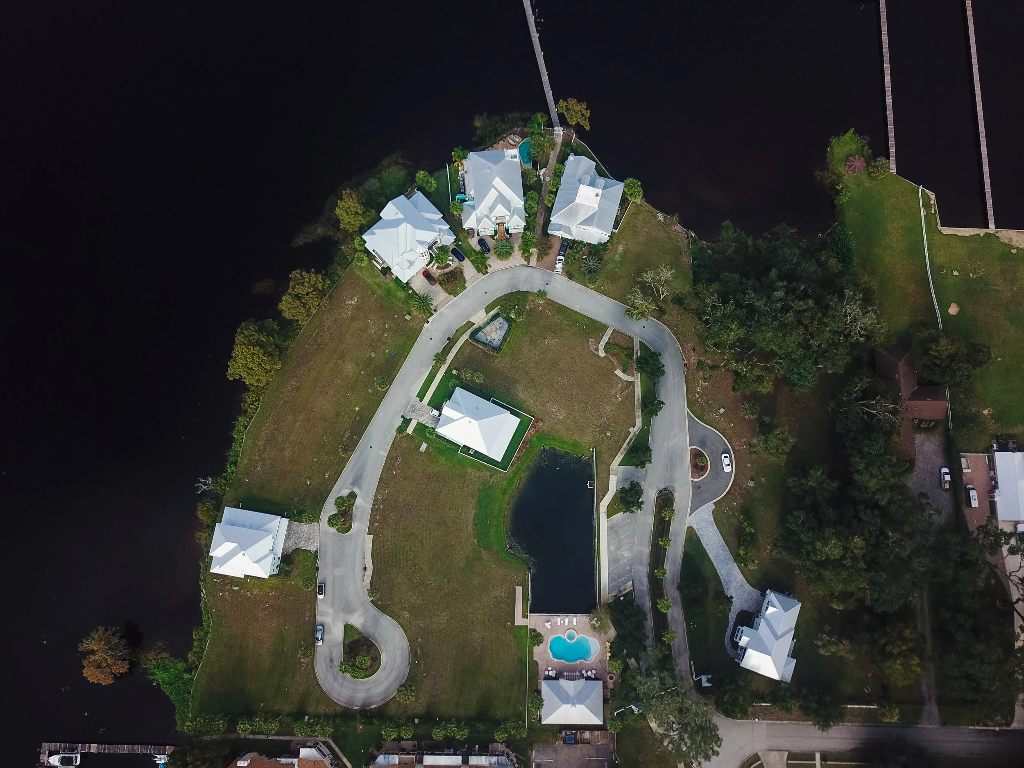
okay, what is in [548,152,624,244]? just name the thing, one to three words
house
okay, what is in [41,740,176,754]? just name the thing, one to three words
pier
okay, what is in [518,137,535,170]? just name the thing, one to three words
swimming pool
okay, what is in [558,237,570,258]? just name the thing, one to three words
vehicle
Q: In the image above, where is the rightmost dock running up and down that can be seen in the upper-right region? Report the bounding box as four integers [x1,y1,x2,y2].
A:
[961,0,996,230]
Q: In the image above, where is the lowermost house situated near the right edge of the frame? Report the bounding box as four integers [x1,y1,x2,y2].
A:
[989,440,1024,521]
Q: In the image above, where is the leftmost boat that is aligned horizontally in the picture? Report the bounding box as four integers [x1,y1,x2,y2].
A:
[47,754,82,766]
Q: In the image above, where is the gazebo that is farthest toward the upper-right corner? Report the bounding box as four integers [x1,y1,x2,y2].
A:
[840,156,864,178]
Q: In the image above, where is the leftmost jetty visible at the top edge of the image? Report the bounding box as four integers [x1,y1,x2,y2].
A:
[525,0,560,130]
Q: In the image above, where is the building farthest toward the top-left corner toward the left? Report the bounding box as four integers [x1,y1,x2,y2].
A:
[362,188,456,283]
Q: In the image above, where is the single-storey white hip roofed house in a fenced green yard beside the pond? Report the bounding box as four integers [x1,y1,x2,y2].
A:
[435,387,520,462]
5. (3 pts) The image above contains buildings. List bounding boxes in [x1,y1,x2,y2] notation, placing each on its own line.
[699,670,714,686]
[734,589,801,683]
[227,738,337,768]
[871,346,947,458]
[541,678,603,724]
[363,743,516,768]
[209,506,292,578]
[548,152,624,244]
[435,387,520,462]
[362,188,456,283]
[456,148,526,242]
[989,440,1024,521]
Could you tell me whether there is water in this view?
Yes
